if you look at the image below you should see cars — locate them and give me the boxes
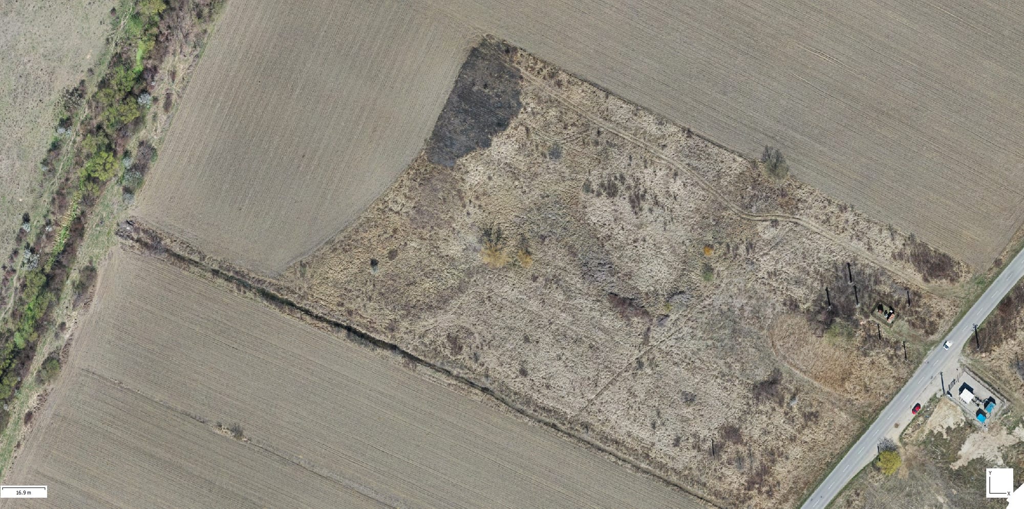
[912,404,921,414]
[943,340,952,351]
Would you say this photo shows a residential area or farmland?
farmland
